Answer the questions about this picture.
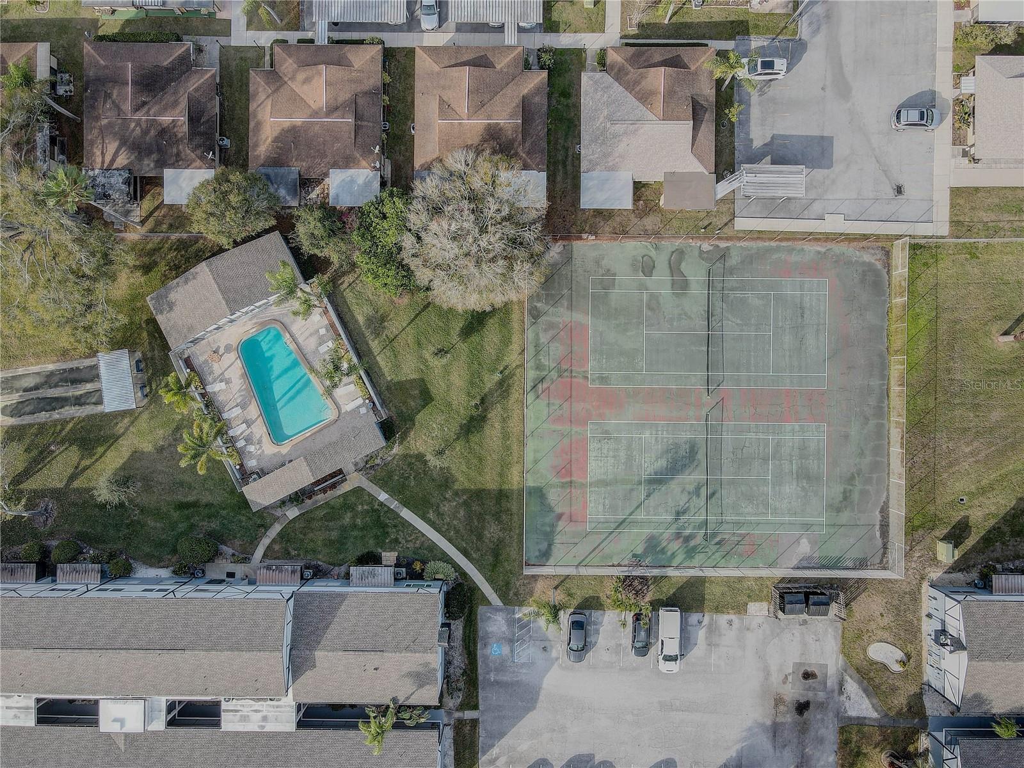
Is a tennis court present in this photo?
Yes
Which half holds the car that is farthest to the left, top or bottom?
top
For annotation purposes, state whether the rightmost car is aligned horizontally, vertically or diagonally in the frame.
horizontally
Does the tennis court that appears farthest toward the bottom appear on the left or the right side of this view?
right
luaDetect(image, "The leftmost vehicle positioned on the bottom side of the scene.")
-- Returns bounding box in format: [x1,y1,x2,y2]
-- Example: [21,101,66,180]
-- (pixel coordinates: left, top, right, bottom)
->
[566,612,589,662]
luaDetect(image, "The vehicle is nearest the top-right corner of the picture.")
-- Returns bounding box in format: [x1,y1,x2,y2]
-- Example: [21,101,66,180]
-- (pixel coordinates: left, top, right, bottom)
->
[890,107,938,131]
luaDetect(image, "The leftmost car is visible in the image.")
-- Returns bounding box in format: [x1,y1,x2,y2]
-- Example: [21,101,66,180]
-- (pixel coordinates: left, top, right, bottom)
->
[417,0,440,30]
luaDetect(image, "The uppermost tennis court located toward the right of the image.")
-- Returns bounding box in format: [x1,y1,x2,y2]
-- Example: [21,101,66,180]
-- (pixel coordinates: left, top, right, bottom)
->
[525,243,889,404]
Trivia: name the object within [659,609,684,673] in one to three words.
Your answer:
truck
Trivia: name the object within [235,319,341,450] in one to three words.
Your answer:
swimming pool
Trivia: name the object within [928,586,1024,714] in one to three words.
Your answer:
building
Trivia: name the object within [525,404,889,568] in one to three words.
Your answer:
tennis court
